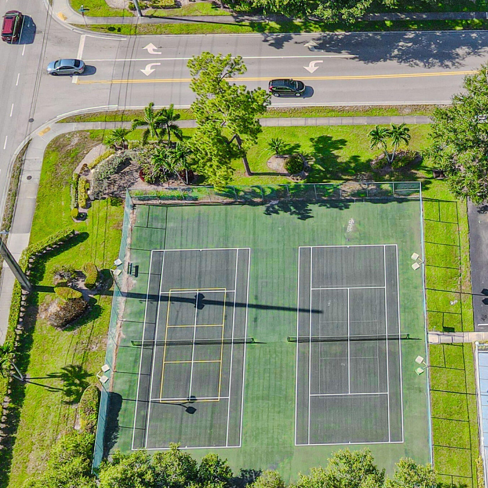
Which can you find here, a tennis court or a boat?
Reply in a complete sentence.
I can see a tennis court in this picture.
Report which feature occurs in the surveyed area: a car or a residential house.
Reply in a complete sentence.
This aerial view contains a car.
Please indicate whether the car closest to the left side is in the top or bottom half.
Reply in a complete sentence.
Seen from above, the car closest to the left side lies in the top half of the view.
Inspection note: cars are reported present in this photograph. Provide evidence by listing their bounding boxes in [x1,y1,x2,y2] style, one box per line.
[1,14,21,45]
[47,58,86,77]
[269,77,307,99]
